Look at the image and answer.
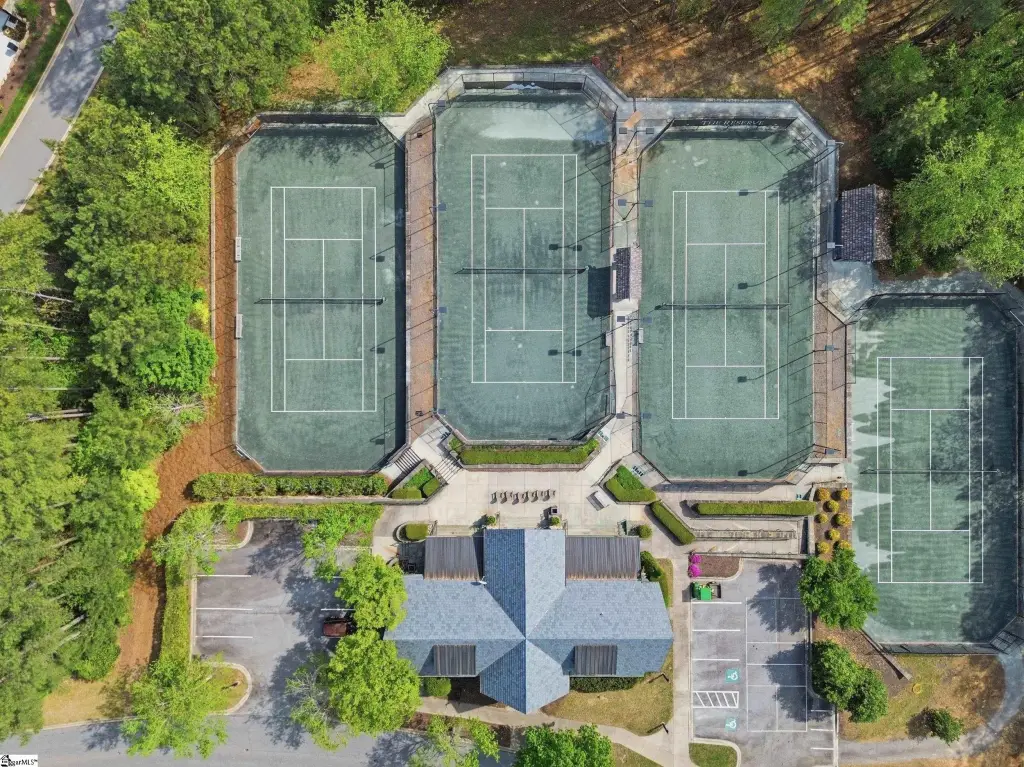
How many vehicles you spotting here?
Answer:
two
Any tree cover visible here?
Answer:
Yes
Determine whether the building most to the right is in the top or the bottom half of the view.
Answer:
top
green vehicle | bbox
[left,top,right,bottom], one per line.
[690,581,720,602]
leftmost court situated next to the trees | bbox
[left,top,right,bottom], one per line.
[236,126,404,471]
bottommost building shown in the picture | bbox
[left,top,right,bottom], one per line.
[383,529,672,713]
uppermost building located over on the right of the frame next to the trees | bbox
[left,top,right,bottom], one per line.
[837,186,890,265]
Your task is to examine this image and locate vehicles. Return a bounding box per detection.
[690,581,720,602]
[321,620,365,643]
